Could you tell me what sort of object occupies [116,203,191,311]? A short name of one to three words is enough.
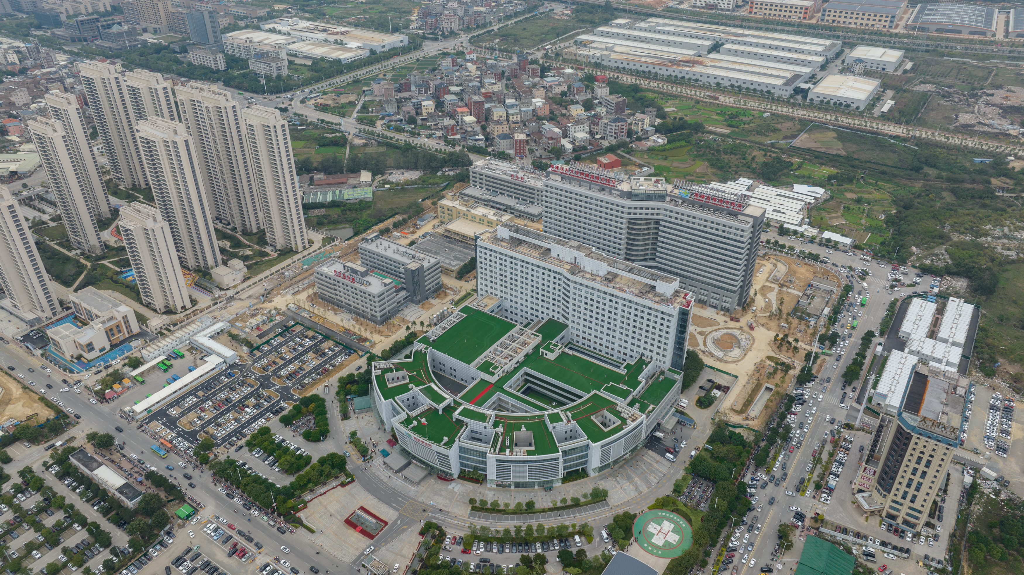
building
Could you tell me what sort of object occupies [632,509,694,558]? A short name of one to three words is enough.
helipad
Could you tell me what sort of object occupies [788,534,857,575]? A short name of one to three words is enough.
shed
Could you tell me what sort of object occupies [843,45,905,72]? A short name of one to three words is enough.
building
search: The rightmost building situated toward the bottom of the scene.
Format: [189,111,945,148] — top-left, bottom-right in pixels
[871,365,969,530]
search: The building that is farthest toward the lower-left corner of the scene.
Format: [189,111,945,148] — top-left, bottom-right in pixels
[69,449,142,509]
